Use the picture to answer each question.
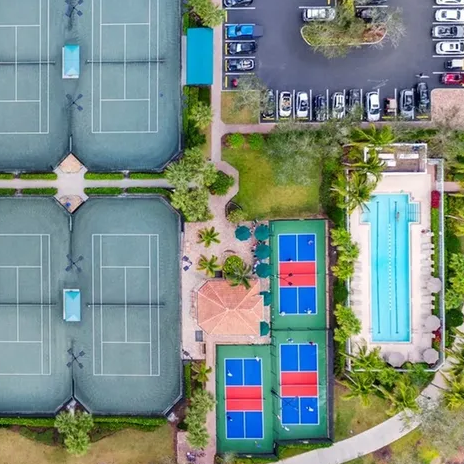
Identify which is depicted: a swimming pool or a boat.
swimming pool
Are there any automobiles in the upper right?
Yes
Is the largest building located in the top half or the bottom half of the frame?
bottom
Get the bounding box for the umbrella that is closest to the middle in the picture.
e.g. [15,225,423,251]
[235,225,251,241]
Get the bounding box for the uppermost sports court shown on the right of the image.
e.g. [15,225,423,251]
[270,221,327,330]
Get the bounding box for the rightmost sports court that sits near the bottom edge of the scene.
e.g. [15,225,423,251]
[270,330,329,443]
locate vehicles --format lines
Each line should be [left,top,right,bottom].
[228,24,264,37]
[296,90,310,119]
[400,90,416,119]
[438,41,464,54]
[433,24,464,38]
[415,84,432,112]
[314,92,329,120]
[436,8,464,22]
[262,91,277,119]
[227,41,257,54]
[304,7,334,21]
[279,91,292,117]
[227,58,256,71]
[382,100,401,109]
[440,71,464,85]
[331,91,347,119]
[347,89,363,117]
[366,92,382,120]
[437,0,464,5]
[445,59,464,68]
[224,0,252,6]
